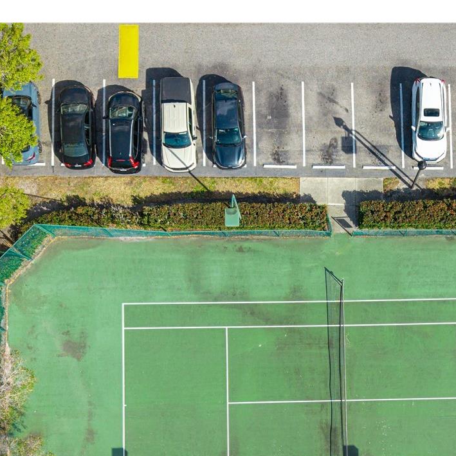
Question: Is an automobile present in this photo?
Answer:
Yes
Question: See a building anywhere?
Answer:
No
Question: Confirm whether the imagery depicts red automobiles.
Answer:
No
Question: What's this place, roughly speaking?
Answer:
sports ground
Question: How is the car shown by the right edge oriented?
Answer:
up and down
